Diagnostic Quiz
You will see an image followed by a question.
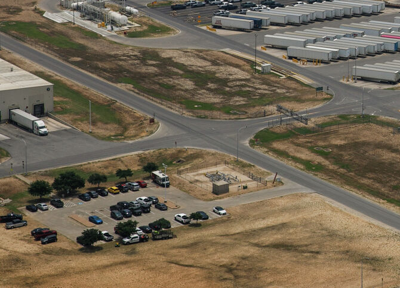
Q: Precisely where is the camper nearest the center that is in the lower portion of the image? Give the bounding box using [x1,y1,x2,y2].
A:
[149,166,170,184]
